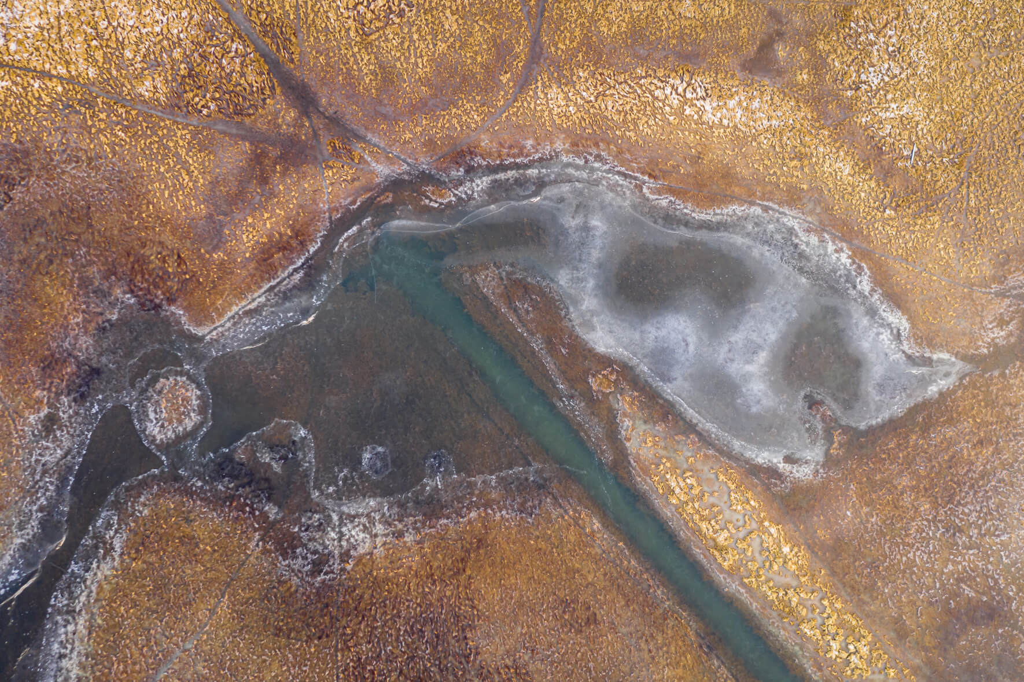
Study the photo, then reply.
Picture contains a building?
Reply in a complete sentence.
No, no building can be seen from above.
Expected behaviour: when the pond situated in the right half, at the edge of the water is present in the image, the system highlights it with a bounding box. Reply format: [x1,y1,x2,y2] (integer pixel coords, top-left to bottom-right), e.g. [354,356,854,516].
[376,182,977,476]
